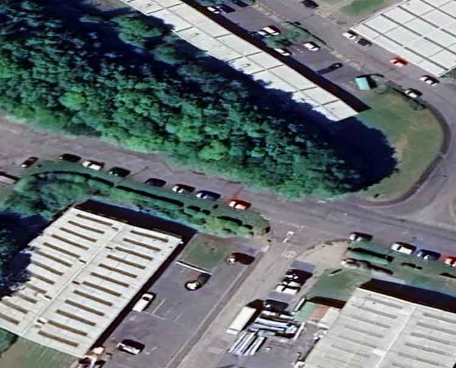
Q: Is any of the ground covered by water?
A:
No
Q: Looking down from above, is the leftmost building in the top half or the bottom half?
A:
bottom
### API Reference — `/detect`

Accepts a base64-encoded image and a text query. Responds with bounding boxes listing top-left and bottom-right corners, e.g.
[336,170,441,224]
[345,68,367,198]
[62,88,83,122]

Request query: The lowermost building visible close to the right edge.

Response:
[303,287,456,368]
